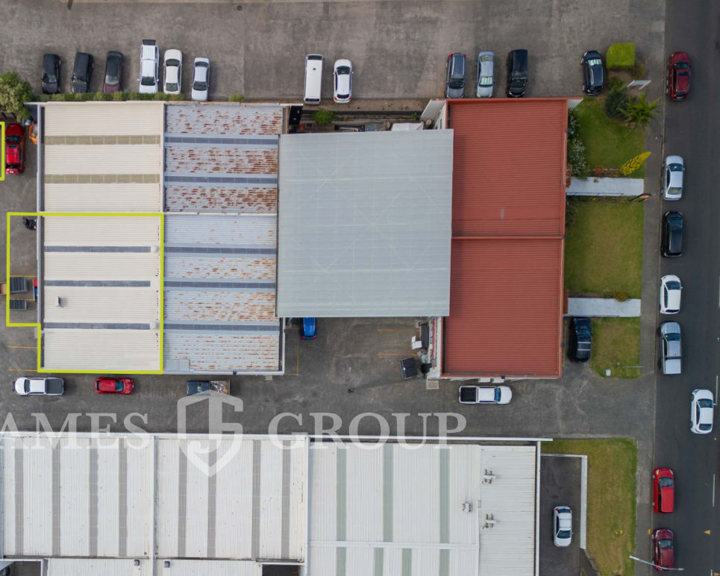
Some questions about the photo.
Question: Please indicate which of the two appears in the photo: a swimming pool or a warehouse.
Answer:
warehouse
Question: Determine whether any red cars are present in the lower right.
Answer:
Yes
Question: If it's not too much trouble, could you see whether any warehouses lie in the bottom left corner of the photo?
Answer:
Yes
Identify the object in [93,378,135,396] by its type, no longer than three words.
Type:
car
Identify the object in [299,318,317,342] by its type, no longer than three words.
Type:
car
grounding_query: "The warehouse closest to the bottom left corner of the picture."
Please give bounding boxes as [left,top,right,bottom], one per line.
[0,433,306,576]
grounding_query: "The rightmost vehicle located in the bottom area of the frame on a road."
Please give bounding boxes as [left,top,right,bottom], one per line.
[690,389,715,435]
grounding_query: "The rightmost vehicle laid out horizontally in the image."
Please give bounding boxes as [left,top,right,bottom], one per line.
[457,384,511,406]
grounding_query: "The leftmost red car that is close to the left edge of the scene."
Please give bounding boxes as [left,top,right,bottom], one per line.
[2,127,26,176]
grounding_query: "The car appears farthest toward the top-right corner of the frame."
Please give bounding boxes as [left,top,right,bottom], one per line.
[666,52,692,101]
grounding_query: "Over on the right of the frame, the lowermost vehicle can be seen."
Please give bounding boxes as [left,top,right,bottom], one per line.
[651,528,676,571]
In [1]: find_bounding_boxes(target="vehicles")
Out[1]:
[580,51,604,97]
[551,506,574,547]
[658,321,685,375]
[303,54,326,106]
[505,47,530,98]
[662,156,686,202]
[474,51,497,98]
[331,59,355,105]
[299,318,317,342]
[660,212,687,258]
[445,52,468,99]
[69,50,93,93]
[651,528,676,571]
[567,317,593,363]
[666,52,692,101]
[186,380,230,399]
[138,35,160,93]
[14,375,65,398]
[651,468,677,513]
[457,384,511,406]
[189,57,211,101]
[40,54,62,93]
[102,50,124,93]
[2,127,26,176]
[659,275,684,315]
[93,378,135,396]
[690,389,715,435]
